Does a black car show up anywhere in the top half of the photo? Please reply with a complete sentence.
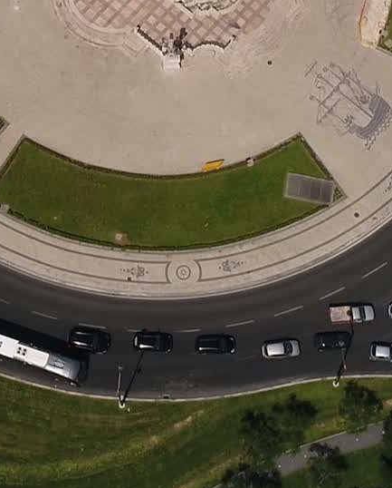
No, looking in the top half of the photo, there is no black car.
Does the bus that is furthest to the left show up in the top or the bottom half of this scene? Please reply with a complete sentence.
It is in the bottom half that the bus that is furthest to the left appears.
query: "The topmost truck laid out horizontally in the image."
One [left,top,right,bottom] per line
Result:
[331,303,376,325]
